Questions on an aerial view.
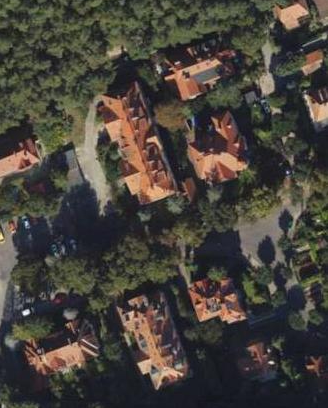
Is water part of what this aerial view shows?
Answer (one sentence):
No, water can't be seen anywhere here.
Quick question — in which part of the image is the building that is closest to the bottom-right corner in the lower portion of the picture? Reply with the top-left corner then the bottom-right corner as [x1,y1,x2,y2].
[299,348,328,383]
